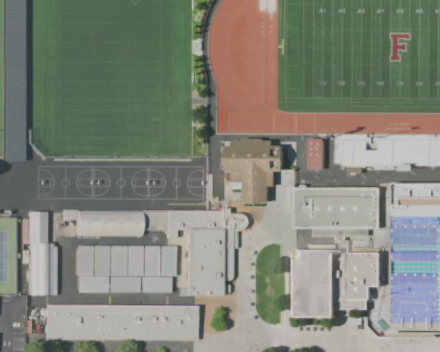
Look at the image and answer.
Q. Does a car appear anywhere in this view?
No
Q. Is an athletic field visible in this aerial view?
Yes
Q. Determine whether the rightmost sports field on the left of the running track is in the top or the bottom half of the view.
top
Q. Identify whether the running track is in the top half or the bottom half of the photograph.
top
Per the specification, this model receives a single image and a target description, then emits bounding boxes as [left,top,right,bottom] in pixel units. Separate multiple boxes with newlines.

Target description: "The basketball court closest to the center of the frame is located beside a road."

[149,163,204,203]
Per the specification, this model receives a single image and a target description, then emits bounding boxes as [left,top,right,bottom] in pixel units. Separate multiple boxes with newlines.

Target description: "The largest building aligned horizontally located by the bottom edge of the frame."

[46,305,200,340]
